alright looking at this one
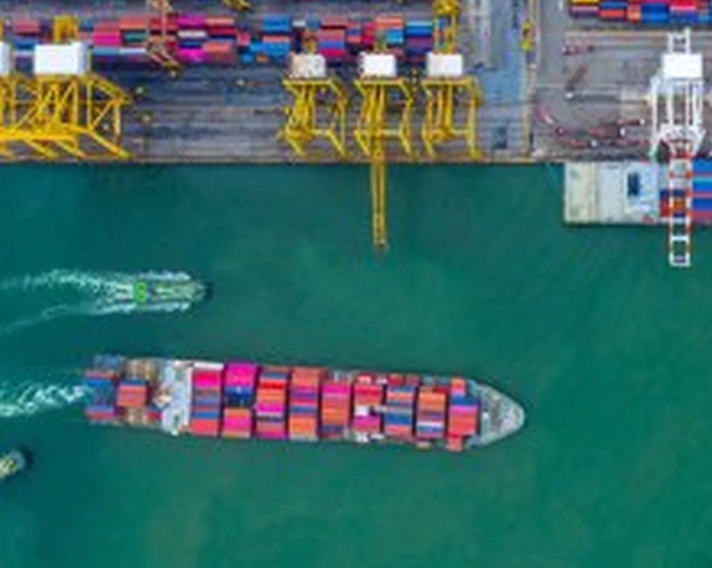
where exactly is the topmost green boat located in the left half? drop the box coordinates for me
[128,279,209,303]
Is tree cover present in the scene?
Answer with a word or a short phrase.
No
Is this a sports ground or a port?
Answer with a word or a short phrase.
port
